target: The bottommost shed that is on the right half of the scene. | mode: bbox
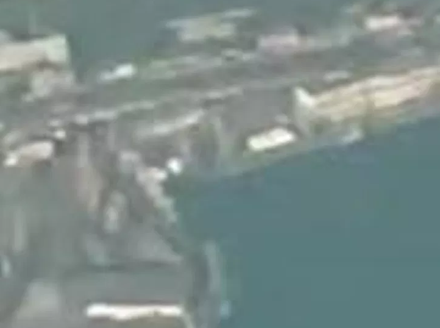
[246,119,295,151]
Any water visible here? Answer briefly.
Yes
